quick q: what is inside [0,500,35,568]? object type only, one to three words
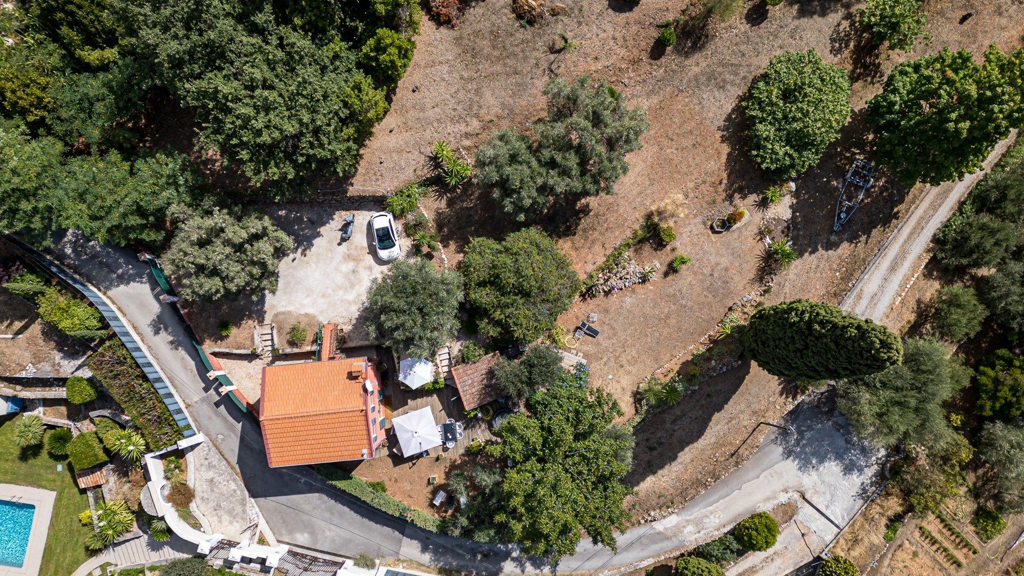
swimming pool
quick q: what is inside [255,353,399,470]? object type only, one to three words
house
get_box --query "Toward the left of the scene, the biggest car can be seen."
[371,211,403,264]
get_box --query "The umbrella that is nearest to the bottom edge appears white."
[392,406,442,461]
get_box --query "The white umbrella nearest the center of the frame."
[399,357,432,389]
